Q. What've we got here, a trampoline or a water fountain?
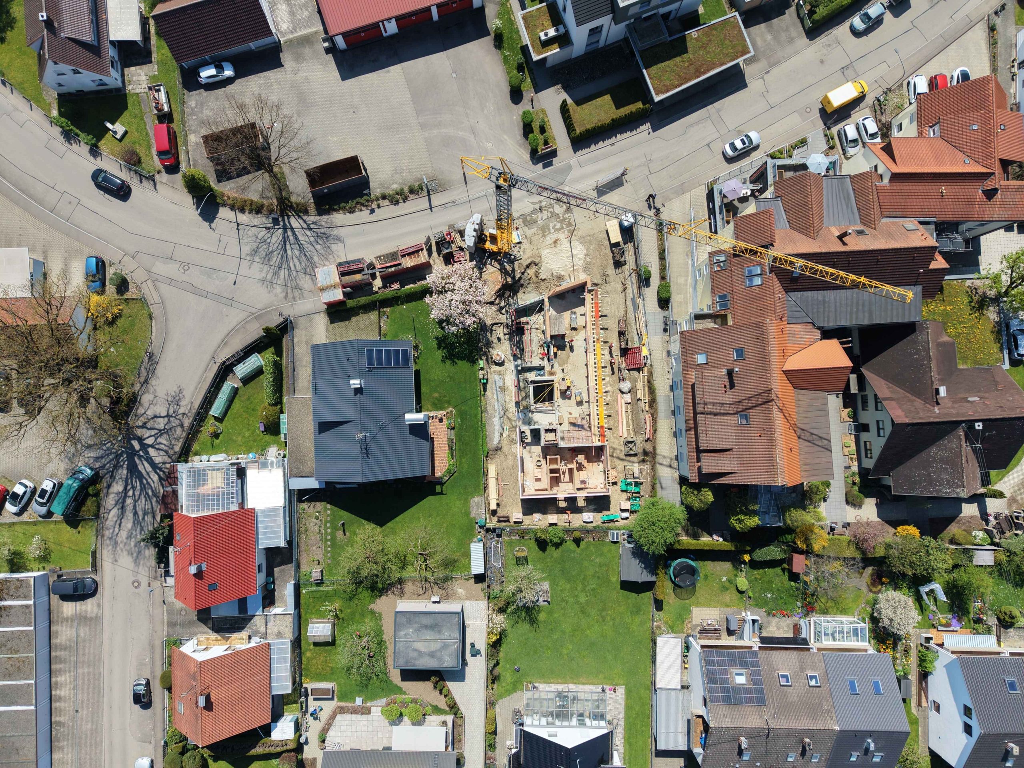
trampoline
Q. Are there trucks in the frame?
Yes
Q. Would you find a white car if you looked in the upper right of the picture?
Yes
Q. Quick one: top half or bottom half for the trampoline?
bottom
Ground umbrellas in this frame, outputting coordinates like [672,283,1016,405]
[719,180,744,201]
[804,153,829,174]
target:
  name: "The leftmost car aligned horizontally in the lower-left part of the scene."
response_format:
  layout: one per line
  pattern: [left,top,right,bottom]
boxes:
[54,577,97,596]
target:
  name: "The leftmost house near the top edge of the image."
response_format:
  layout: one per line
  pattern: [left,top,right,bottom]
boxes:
[24,0,126,95]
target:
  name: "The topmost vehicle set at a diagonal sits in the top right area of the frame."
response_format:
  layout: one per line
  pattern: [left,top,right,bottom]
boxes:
[849,2,887,34]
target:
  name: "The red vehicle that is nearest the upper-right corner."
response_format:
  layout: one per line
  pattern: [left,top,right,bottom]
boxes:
[928,72,949,92]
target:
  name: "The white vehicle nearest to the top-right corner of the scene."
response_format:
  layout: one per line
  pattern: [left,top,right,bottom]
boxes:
[949,65,971,86]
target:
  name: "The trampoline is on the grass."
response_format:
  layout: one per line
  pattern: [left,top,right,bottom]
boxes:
[668,557,705,592]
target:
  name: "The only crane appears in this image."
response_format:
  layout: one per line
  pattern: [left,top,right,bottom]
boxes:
[461,154,917,305]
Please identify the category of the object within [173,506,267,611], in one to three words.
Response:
house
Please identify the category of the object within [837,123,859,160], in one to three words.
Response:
car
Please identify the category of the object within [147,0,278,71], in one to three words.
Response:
building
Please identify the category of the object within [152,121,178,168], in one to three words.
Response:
vehicle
